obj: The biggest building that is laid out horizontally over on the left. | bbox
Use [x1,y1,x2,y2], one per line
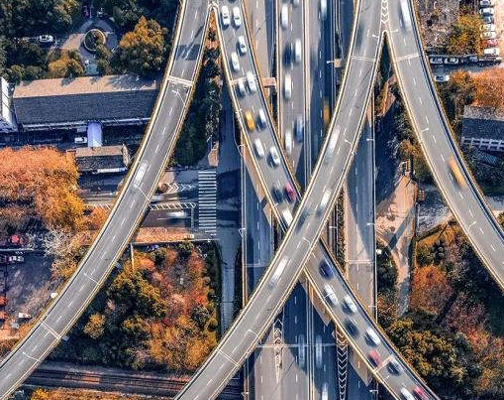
[14,74,161,136]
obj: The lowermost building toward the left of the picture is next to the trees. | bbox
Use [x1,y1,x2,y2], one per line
[75,144,129,176]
